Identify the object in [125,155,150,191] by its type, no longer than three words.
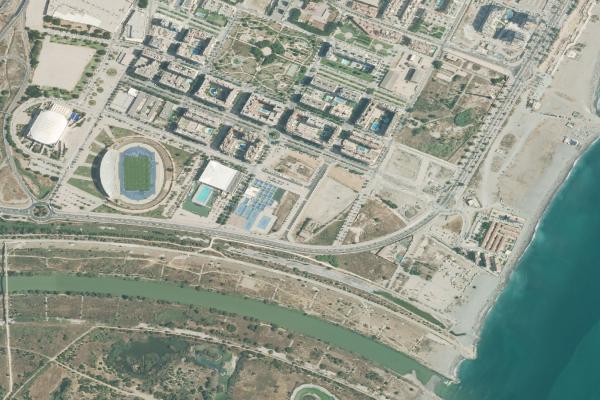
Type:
sports field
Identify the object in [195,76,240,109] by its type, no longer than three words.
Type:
building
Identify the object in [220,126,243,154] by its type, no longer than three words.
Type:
building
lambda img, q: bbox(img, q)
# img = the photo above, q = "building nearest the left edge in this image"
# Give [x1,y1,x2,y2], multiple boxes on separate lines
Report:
[54,6,103,25]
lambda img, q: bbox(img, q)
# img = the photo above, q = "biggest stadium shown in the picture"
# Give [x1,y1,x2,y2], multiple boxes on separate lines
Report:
[100,136,175,213]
